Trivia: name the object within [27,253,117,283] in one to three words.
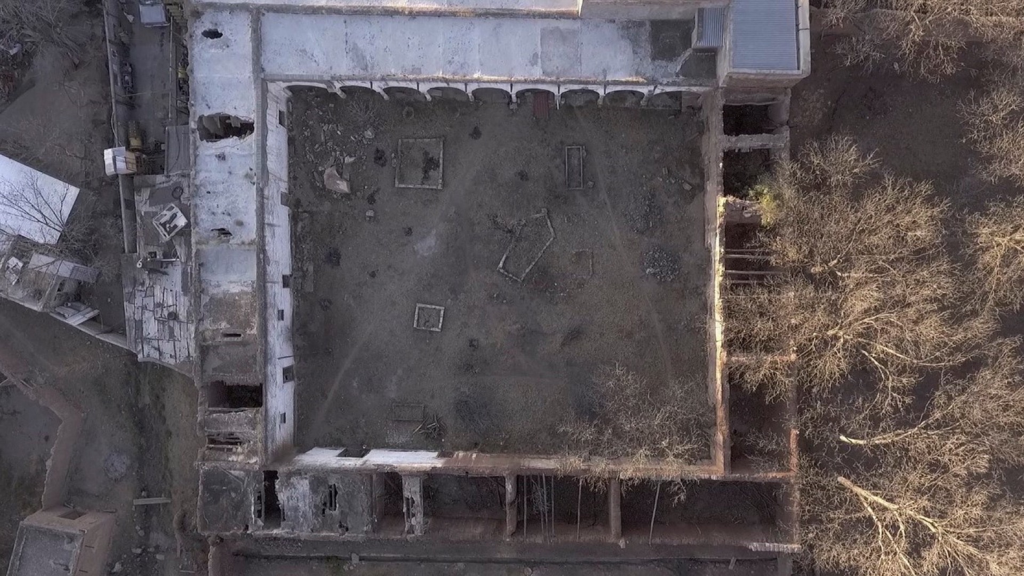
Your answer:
shed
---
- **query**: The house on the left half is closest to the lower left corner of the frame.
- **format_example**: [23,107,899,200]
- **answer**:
[4,503,120,576]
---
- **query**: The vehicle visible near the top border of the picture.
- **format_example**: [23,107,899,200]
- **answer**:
[136,0,172,28]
